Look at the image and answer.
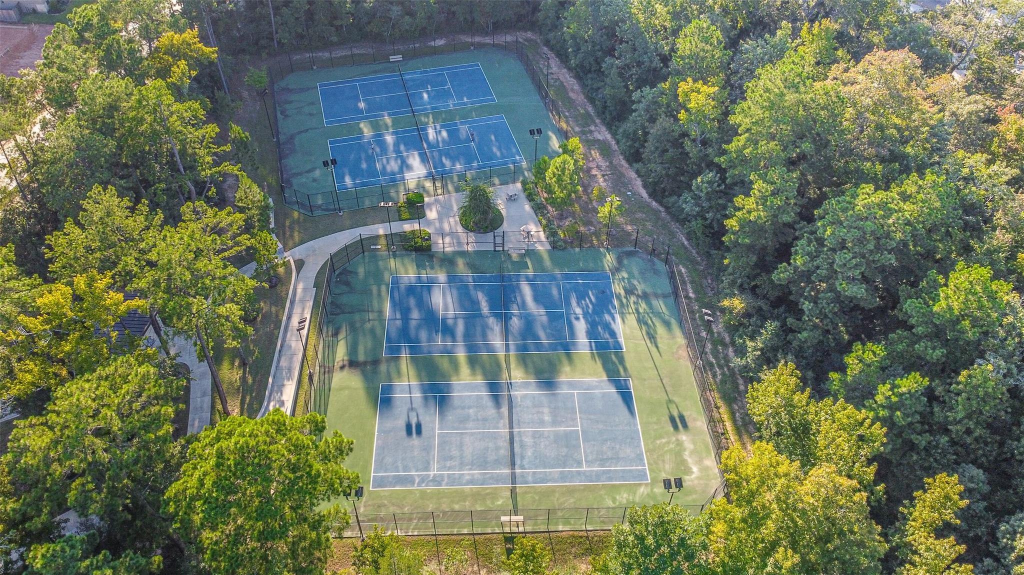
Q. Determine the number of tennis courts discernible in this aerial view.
4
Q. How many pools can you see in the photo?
0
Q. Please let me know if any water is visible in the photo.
No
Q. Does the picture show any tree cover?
Yes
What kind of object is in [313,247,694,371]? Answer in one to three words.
tennis court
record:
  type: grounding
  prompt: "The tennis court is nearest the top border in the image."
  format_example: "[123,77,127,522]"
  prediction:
[270,46,544,140]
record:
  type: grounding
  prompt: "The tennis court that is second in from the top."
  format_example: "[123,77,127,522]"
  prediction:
[275,102,576,219]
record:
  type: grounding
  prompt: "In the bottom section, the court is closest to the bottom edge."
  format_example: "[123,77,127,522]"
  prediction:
[292,363,727,539]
